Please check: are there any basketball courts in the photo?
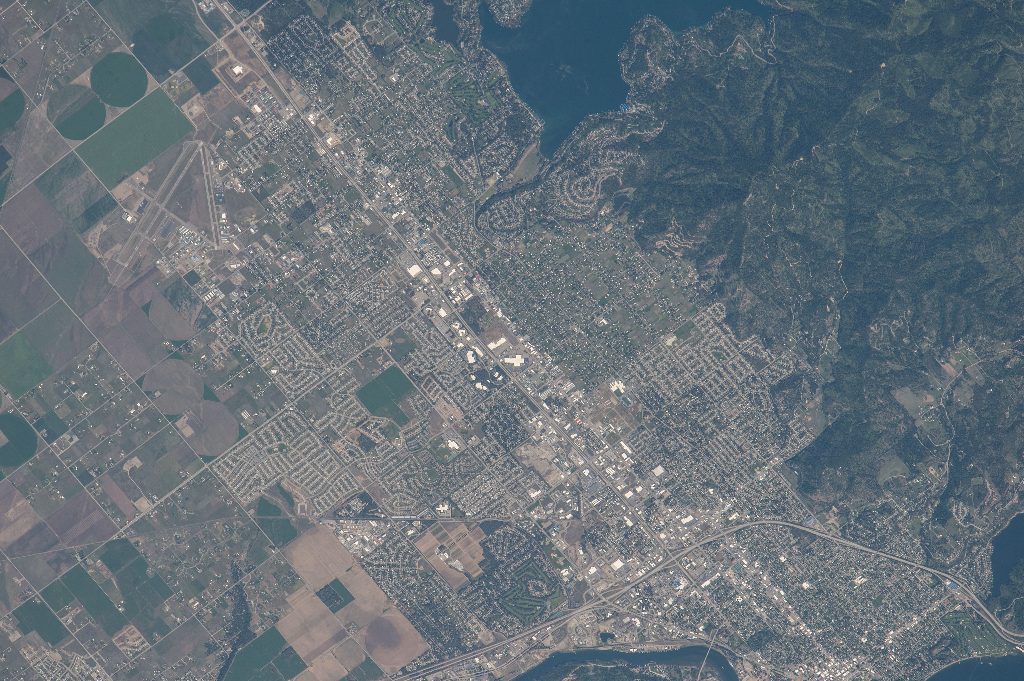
No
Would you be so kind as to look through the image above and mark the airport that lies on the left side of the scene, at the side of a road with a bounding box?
[95,130,243,285]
